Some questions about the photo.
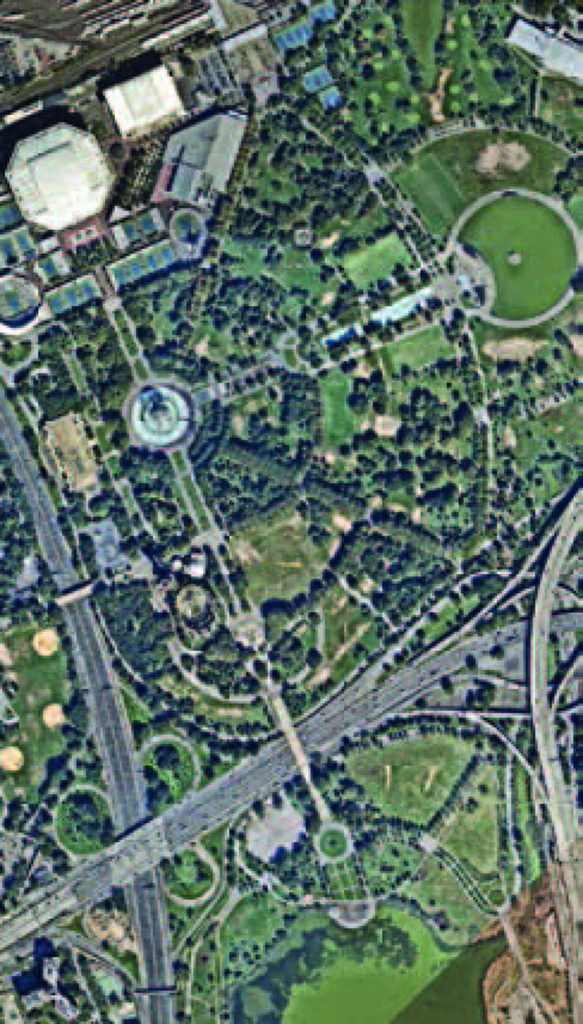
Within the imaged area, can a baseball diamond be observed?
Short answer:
Yes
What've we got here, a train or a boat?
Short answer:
train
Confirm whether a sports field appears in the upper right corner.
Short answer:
Yes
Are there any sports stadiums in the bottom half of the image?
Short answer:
No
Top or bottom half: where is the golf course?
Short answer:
top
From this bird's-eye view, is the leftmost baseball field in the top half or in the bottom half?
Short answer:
bottom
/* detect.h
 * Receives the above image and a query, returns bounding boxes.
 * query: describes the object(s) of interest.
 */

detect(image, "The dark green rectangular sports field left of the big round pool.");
[396,155,463,231]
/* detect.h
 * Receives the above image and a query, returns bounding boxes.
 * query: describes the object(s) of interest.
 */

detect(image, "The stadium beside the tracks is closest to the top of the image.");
[104,62,184,138]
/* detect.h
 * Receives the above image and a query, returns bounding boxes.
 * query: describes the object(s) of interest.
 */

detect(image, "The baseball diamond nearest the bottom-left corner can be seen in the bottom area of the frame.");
[0,743,26,774]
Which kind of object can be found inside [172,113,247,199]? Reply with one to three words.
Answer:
building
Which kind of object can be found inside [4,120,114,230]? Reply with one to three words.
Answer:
stadium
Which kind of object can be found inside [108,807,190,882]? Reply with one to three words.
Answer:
overpass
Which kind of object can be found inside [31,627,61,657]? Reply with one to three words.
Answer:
baseball field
